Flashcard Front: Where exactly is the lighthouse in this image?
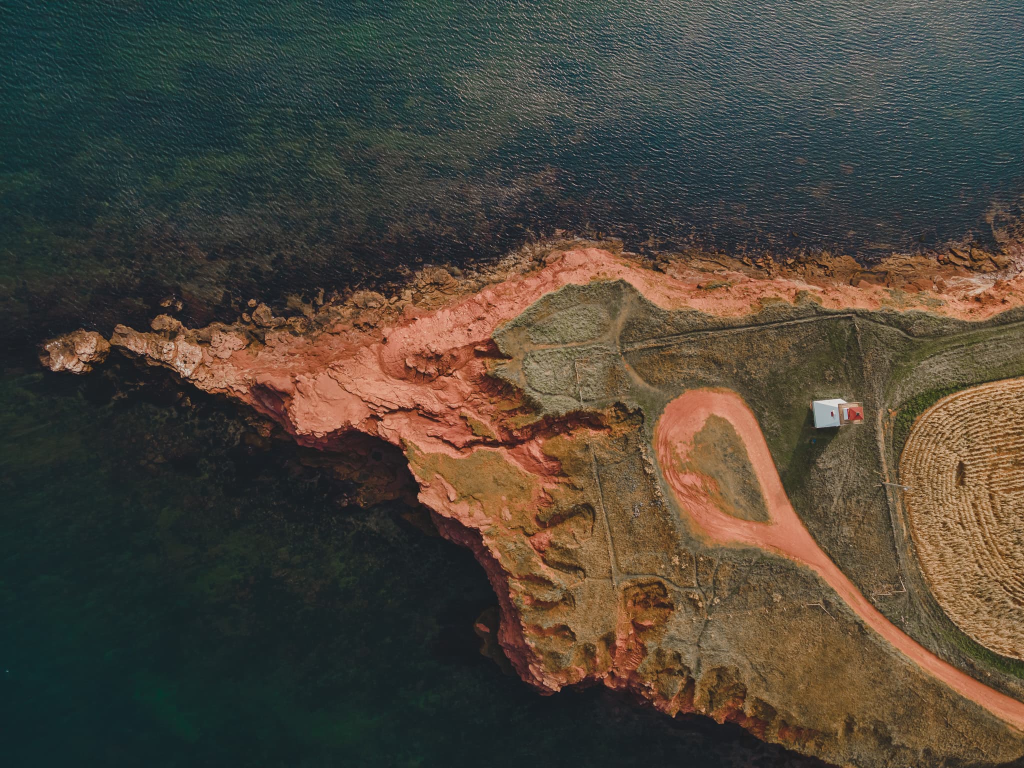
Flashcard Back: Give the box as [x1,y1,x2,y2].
[812,398,866,429]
